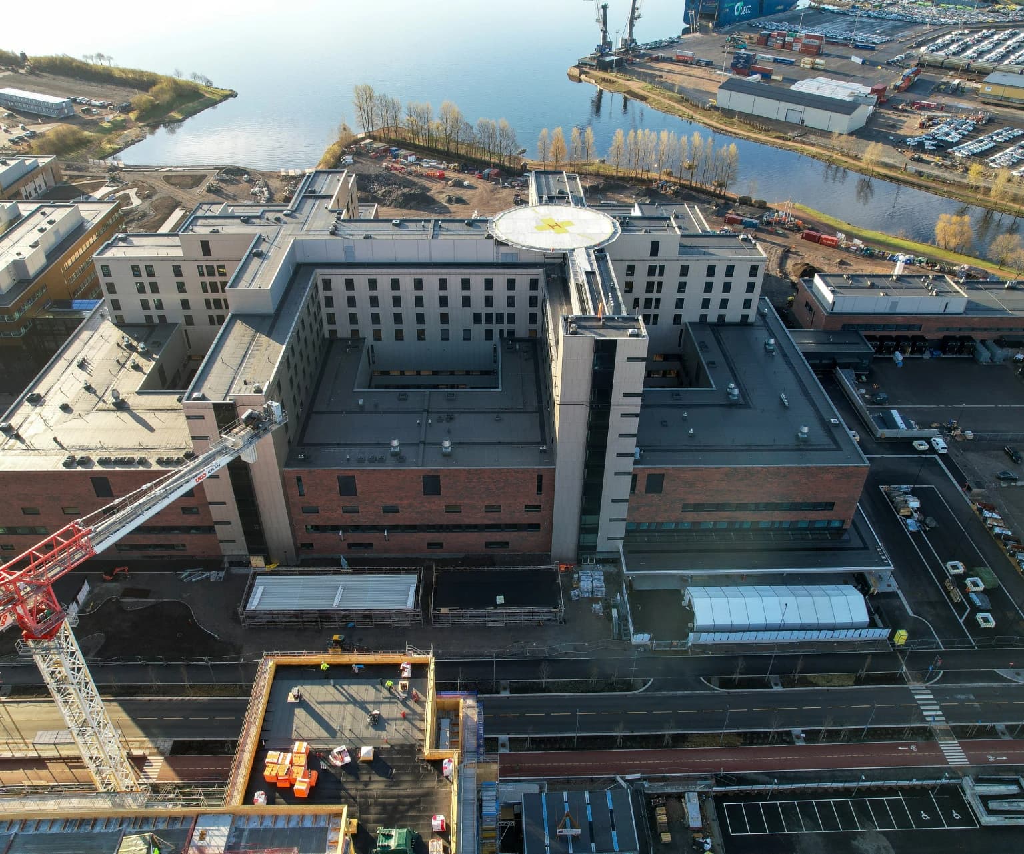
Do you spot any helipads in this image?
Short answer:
Yes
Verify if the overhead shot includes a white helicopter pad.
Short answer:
Yes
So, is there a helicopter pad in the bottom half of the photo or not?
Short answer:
No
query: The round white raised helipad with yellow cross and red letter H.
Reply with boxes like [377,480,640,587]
[488,205,619,301]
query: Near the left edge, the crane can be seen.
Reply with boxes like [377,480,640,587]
[0,407,290,791]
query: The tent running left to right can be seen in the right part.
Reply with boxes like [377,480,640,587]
[681,576,871,631]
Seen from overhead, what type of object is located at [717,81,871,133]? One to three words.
shed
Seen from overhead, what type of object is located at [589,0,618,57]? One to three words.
crane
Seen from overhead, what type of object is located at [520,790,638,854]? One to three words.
building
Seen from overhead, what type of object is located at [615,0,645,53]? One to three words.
crane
